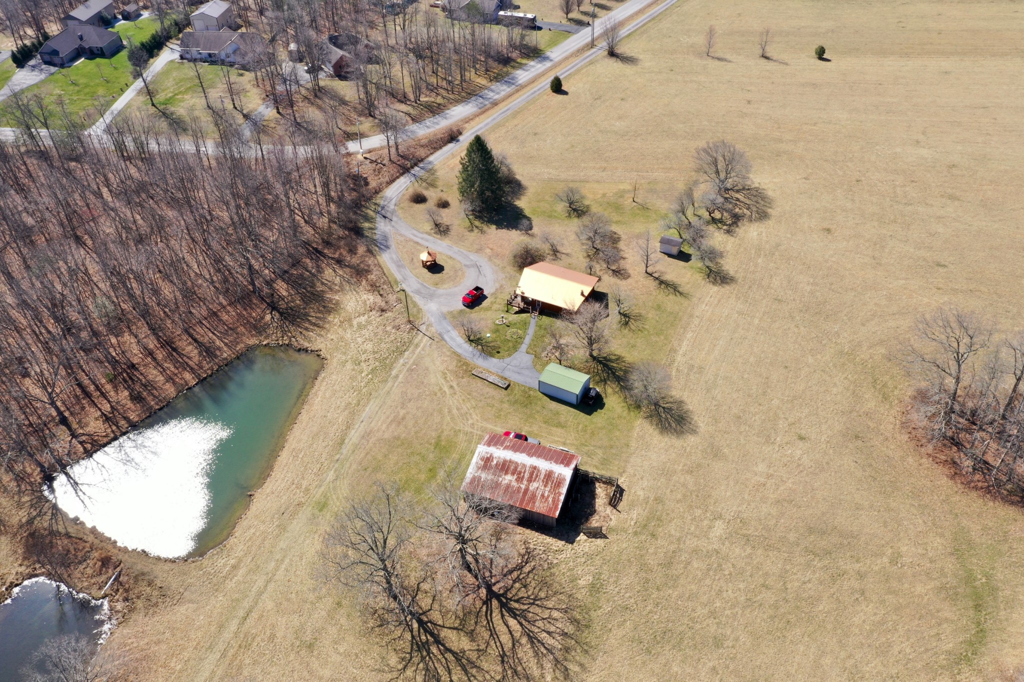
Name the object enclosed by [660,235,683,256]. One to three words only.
shed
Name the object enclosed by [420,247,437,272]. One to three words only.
gazebo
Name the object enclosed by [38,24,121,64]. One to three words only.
house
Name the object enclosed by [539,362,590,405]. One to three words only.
building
